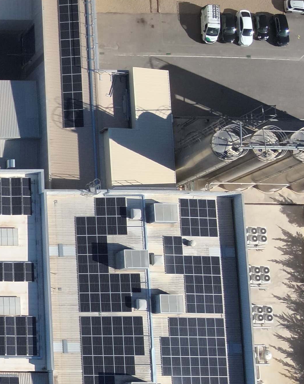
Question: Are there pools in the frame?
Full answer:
No, the picture doesn't show any pool.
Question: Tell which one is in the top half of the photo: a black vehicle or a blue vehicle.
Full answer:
The one visible in the top half of the photo is a black vehicle.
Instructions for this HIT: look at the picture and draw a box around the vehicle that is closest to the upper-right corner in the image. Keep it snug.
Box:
[285,0,304,15]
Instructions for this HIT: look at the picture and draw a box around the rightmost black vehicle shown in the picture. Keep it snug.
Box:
[270,13,293,48]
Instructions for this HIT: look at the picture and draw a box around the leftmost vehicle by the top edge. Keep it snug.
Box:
[199,3,223,45]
